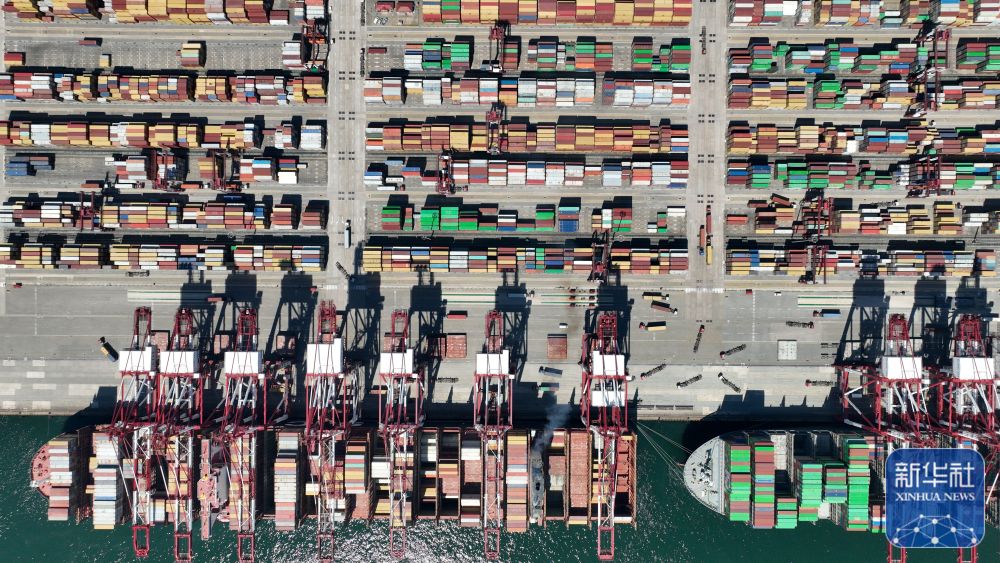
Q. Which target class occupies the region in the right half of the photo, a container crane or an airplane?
container crane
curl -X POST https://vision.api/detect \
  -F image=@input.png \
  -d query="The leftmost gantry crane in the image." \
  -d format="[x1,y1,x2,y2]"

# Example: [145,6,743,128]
[79,185,118,230]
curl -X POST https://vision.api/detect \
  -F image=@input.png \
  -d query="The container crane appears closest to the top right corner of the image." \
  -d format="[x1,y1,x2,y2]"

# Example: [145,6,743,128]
[911,25,951,78]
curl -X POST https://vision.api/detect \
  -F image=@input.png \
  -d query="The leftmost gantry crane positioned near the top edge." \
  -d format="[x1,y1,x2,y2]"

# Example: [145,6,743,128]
[304,20,329,73]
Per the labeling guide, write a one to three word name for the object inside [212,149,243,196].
container crane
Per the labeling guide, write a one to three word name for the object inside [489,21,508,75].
container crane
